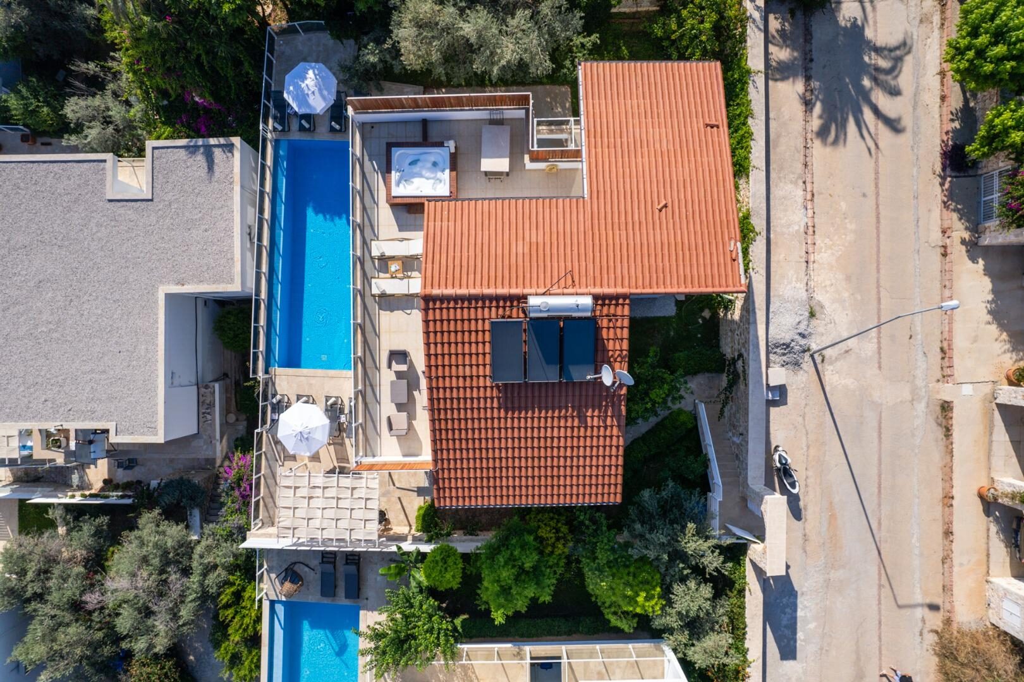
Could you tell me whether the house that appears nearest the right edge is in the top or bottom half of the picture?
bottom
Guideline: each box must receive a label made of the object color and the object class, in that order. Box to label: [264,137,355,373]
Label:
blue swimming pool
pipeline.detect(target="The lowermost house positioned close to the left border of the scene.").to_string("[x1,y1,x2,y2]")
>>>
[0,137,269,442]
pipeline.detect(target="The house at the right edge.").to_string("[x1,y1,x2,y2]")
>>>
[990,578,1024,642]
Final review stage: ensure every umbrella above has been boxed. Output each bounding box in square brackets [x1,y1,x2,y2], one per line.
[286,64,339,117]
[278,401,333,456]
